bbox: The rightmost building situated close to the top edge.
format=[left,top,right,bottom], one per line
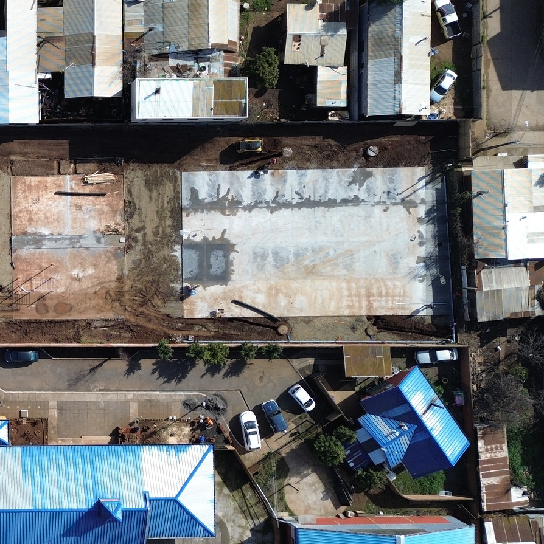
[358,0,439,119]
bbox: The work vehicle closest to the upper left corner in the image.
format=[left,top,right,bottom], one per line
[235,137,266,154]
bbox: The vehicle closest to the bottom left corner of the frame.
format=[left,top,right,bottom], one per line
[4,348,39,366]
